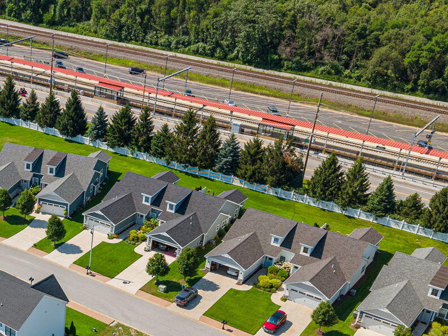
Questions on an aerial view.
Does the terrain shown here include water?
No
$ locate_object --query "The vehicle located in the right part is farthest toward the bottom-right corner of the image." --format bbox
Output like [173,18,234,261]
[265,309,287,333]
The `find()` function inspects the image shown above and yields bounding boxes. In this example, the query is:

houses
[204,202,379,307]
[354,245,448,336]
[0,272,77,336]
[81,167,241,257]
[0,140,111,219]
